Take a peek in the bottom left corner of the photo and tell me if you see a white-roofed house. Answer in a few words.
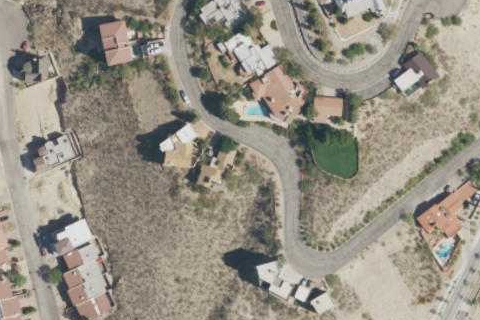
Yes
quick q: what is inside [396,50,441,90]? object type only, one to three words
house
